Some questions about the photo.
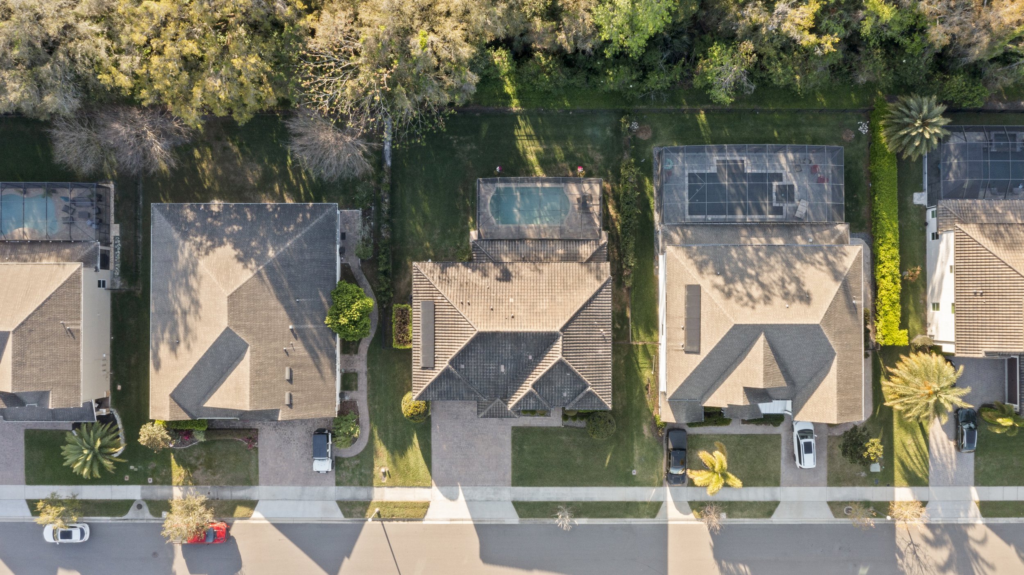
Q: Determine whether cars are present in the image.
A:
Yes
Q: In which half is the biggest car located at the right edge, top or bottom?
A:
bottom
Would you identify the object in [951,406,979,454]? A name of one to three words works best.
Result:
car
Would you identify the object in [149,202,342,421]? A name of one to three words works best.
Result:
house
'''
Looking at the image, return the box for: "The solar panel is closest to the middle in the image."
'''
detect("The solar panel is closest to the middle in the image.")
[421,301,434,368]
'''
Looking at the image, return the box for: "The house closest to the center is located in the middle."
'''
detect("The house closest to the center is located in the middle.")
[411,239,613,418]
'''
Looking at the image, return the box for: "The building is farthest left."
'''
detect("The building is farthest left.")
[0,240,110,423]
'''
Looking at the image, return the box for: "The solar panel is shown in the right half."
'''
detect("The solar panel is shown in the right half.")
[684,285,700,353]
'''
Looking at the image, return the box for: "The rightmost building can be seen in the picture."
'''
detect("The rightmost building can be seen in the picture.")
[924,199,1024,413]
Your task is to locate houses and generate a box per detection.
[659,222,865,423]
[149,202,342,421]
[411,239,613,418]
[924,199,1024,413]
[0,240,110,423]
